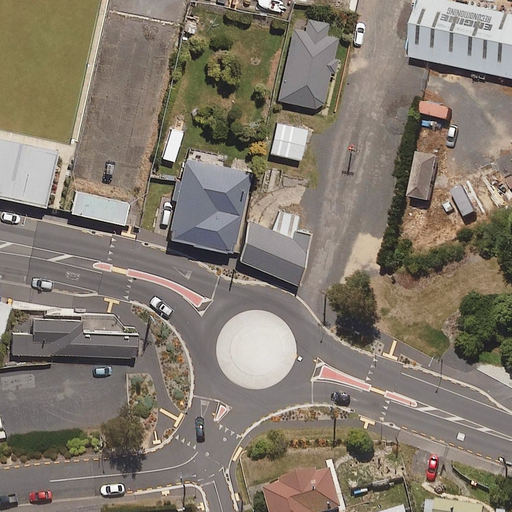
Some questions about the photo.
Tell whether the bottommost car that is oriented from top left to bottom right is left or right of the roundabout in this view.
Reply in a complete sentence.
The bottommost car that is oriented from top left to bottom right can be seen on the left of the roundabout.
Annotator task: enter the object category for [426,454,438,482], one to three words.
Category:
vehicle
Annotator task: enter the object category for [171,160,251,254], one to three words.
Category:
house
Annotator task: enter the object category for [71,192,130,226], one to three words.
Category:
building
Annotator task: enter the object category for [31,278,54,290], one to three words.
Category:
vehicle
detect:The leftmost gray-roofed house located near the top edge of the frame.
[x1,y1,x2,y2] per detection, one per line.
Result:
[278,19,339,110]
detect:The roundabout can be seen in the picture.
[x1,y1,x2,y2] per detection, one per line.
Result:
[216,310,296,390]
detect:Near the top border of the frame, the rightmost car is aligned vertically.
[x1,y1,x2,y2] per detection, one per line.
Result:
[354,22,366,48]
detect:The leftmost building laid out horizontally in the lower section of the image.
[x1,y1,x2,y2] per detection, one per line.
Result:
[11,302,139,366]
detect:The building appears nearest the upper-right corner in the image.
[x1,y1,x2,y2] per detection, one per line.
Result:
[408,0,512,79]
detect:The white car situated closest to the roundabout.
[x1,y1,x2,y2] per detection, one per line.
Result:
[150,297,173,317]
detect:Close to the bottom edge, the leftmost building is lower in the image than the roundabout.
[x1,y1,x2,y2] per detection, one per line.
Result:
[262,466,340,512]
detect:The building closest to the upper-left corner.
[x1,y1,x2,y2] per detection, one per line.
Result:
[0,138,58,208]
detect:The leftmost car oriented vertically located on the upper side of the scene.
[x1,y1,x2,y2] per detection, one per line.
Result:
[103,160,115,184]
